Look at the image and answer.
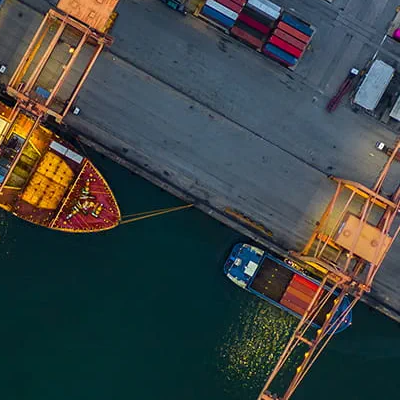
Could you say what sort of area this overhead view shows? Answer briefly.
port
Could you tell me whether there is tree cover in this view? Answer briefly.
No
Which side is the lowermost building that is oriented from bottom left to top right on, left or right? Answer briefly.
right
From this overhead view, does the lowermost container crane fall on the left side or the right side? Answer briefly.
right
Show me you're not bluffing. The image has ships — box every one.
[221,240,354,329]
[0,100,121,231]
